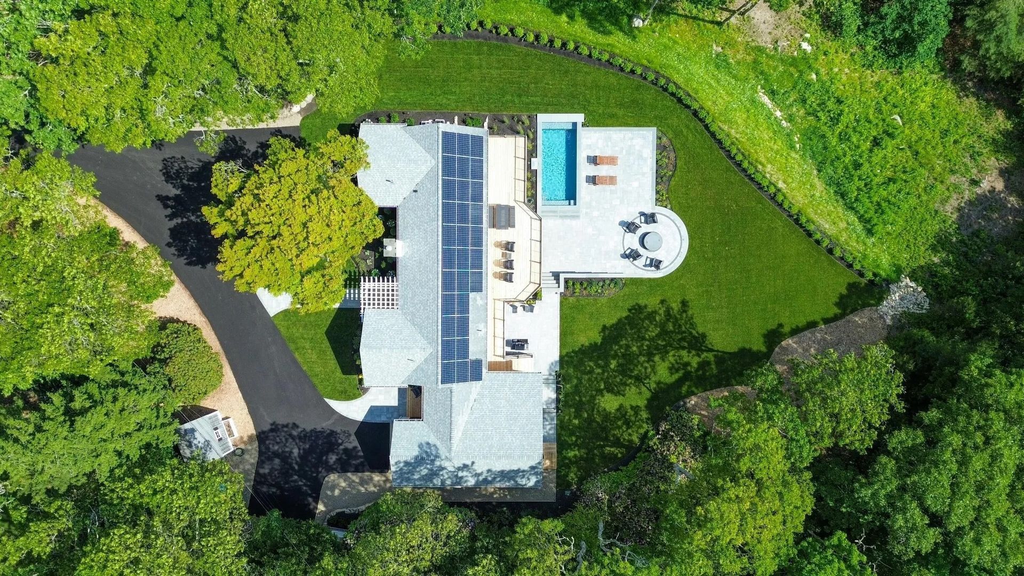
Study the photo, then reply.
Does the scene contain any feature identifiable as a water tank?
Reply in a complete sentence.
No, the frame has no water tank in it.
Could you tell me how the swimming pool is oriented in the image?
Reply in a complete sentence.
What the image shows is the swimming pool lying vertically.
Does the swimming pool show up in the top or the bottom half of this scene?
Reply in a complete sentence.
The swimming pool sits in the top half of the picture.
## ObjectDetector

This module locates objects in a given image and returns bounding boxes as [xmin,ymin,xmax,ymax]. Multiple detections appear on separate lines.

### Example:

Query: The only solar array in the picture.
[443,131,484,384]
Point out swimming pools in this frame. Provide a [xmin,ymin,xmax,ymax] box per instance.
[537,114,584,216]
